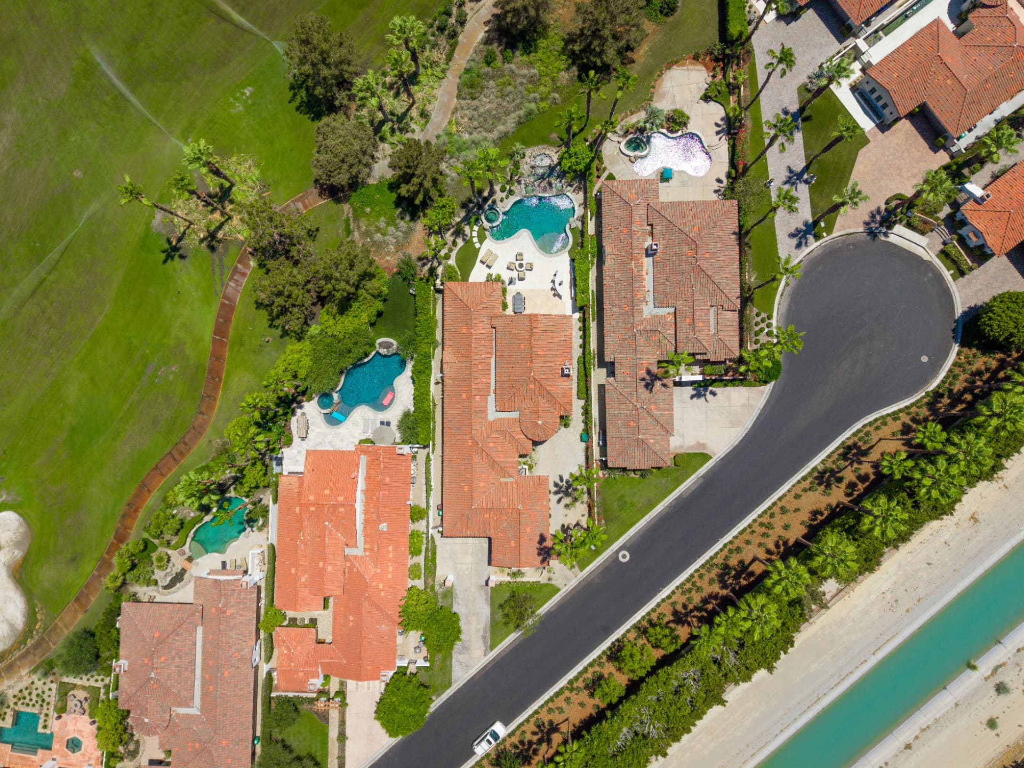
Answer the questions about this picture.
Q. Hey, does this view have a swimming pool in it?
Yes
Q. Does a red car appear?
No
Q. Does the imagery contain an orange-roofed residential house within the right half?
Yes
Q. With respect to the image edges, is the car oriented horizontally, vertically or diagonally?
diagonally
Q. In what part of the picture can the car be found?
bottom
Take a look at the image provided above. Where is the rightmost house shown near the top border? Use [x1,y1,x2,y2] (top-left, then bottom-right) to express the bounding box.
[855,0,1024,142]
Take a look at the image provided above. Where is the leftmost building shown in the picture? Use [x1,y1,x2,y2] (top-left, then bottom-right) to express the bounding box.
[113,565,266,768]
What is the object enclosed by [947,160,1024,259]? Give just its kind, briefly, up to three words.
house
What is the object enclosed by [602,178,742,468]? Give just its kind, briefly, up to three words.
house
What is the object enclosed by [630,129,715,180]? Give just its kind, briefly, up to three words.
swimming pool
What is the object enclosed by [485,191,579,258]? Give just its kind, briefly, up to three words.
swimming pool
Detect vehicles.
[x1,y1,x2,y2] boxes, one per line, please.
[467,721,509,763]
